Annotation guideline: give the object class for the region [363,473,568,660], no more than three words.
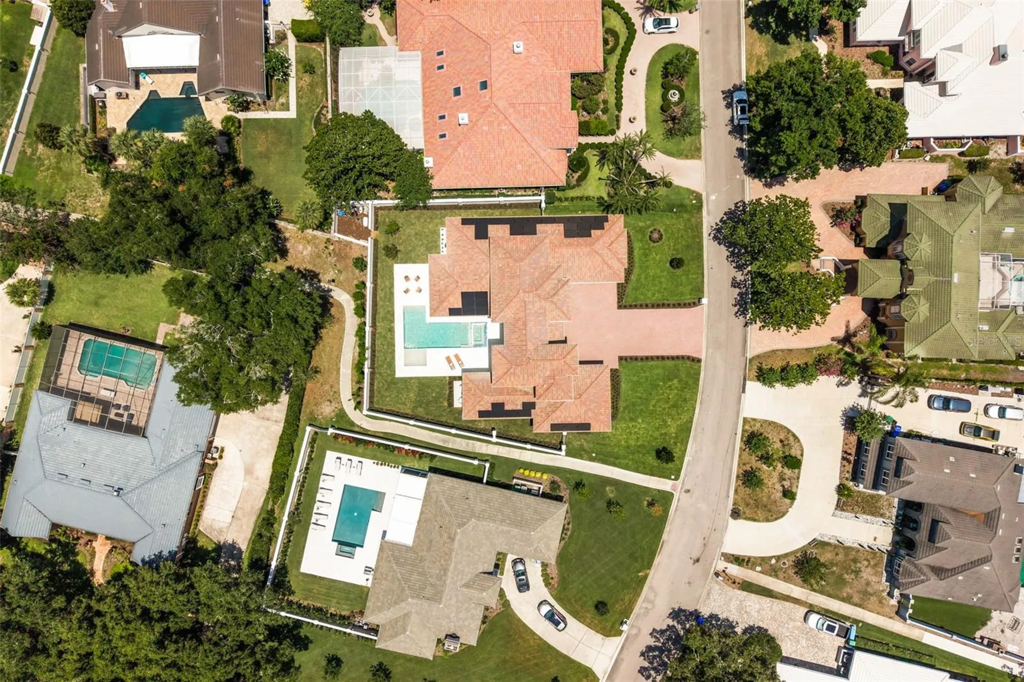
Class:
house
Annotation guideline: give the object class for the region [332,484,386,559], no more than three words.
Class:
swimming pool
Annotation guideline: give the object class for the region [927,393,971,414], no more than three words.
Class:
car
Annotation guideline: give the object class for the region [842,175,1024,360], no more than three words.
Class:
house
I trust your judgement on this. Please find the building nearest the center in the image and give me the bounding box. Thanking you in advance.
[428,214,628,433]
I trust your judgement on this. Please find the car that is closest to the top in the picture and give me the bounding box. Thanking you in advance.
[643,14,679,34]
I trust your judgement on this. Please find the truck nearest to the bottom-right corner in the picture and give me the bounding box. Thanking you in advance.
[805,610,851,639]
